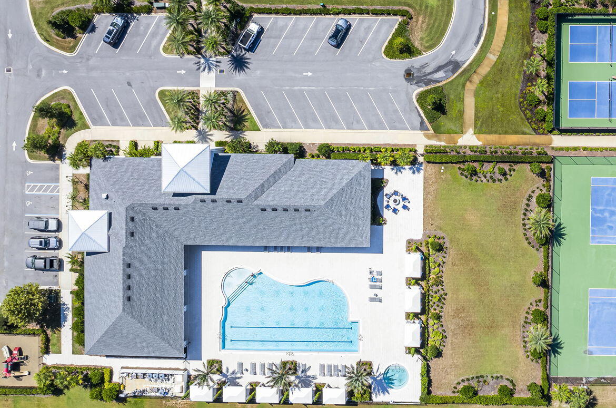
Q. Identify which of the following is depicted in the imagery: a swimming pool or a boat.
swimming pool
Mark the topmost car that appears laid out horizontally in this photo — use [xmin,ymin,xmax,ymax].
[27,217,62,232]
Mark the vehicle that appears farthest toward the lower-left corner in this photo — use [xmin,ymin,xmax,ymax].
[26,256,61,271]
